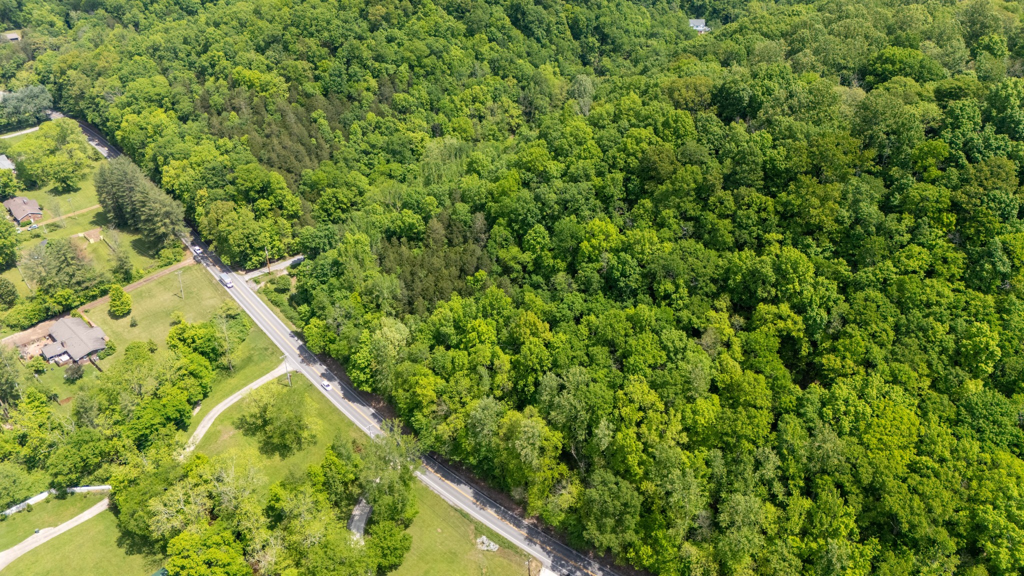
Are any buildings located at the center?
No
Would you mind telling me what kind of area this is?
forest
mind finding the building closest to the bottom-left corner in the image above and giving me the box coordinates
[41,321,109,367]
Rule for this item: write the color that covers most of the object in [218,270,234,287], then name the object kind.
white vehicle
